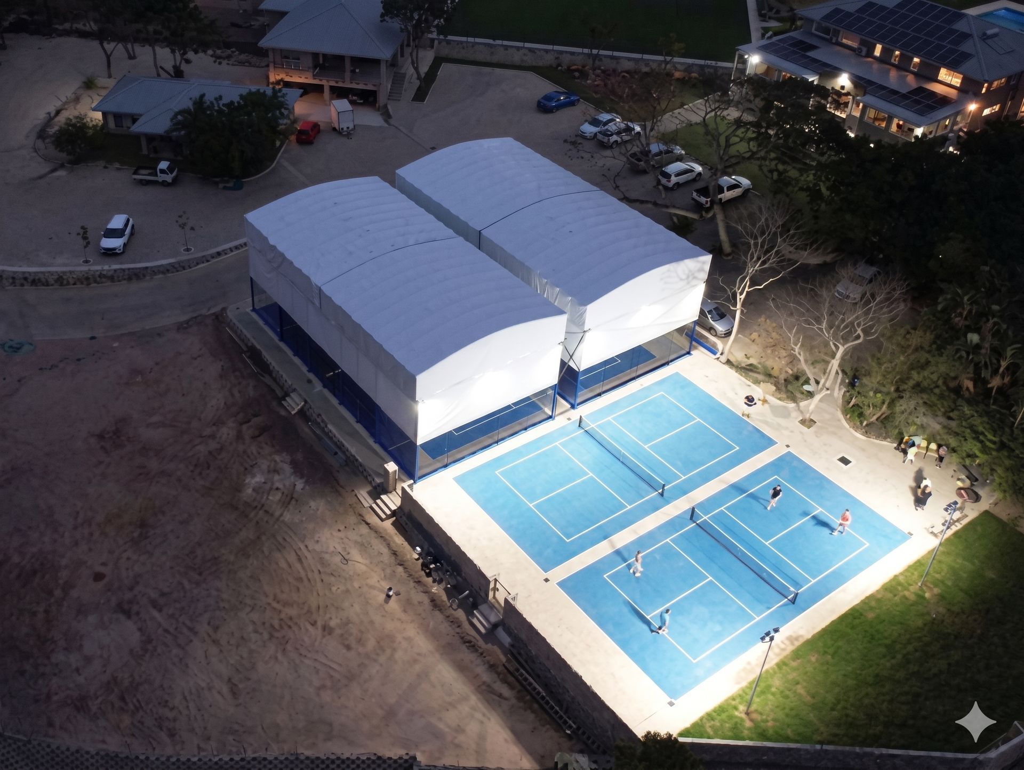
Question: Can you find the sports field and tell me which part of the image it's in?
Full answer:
The sports field is in the top part of the image.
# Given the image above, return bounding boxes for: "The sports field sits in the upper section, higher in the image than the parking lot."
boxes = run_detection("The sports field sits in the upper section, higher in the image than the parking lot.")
[437,0,759,64]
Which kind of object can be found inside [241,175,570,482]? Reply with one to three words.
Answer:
tent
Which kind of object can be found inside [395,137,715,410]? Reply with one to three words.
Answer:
tent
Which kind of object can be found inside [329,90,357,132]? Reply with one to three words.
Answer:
trailer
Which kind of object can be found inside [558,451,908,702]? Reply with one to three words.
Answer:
sports court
